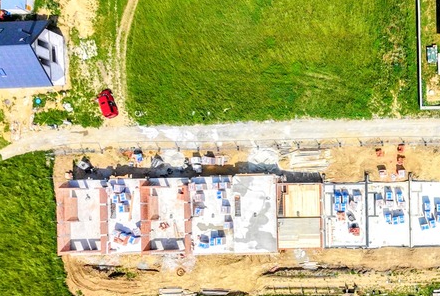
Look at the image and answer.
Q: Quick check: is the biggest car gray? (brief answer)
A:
No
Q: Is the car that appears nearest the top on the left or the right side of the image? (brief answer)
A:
left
